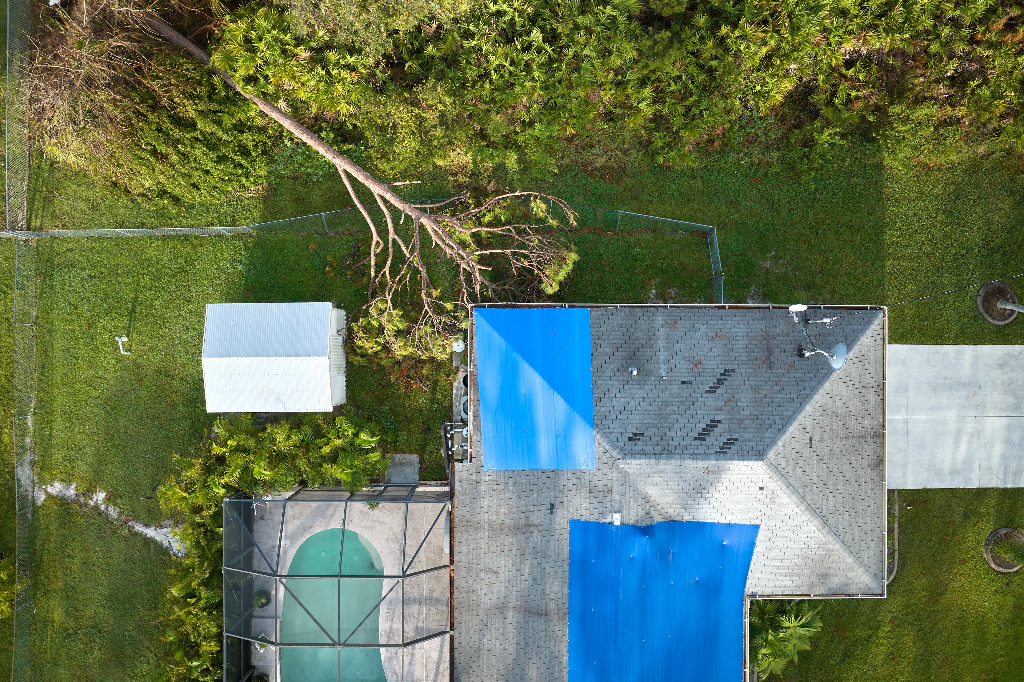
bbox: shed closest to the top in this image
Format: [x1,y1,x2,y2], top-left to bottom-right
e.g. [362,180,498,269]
[201,303,346,412]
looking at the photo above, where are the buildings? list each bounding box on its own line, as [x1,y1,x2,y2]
[201,303,346,412]
[449,305,888,682]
